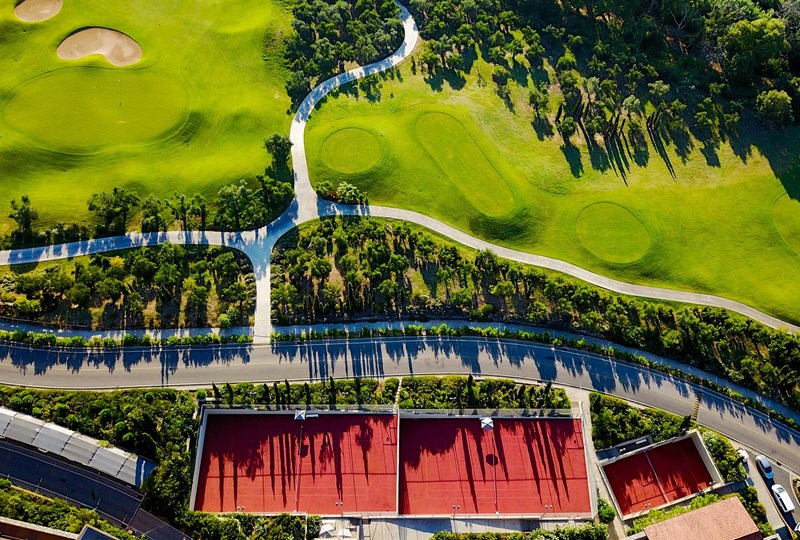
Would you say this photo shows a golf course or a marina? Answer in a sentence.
The picture captures a golf course.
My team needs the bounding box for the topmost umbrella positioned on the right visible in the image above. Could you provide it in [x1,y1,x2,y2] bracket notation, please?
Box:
[480,417,494,431]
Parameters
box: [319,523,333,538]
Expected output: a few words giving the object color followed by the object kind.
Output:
white umbrella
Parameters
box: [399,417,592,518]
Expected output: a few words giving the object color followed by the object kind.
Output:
red tennis court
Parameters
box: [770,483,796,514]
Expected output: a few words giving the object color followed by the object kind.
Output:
white vehicle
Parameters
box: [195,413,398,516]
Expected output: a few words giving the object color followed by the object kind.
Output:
red tennis court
